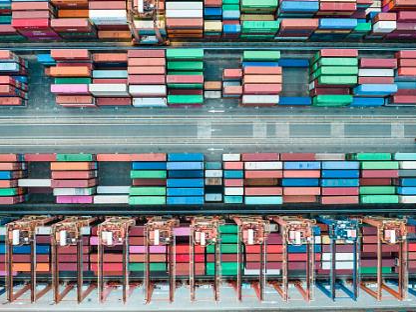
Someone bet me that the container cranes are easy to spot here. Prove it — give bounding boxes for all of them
[145,213,186,304]
[7,213,65,304]
[310,213,366,307]
[99,213,145,304]
[226,213,273,304]
[127,0,171,46]
[348,213,412,304]
[53,213,106,304]
[186,213,226,304]
[267,213,319,304]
